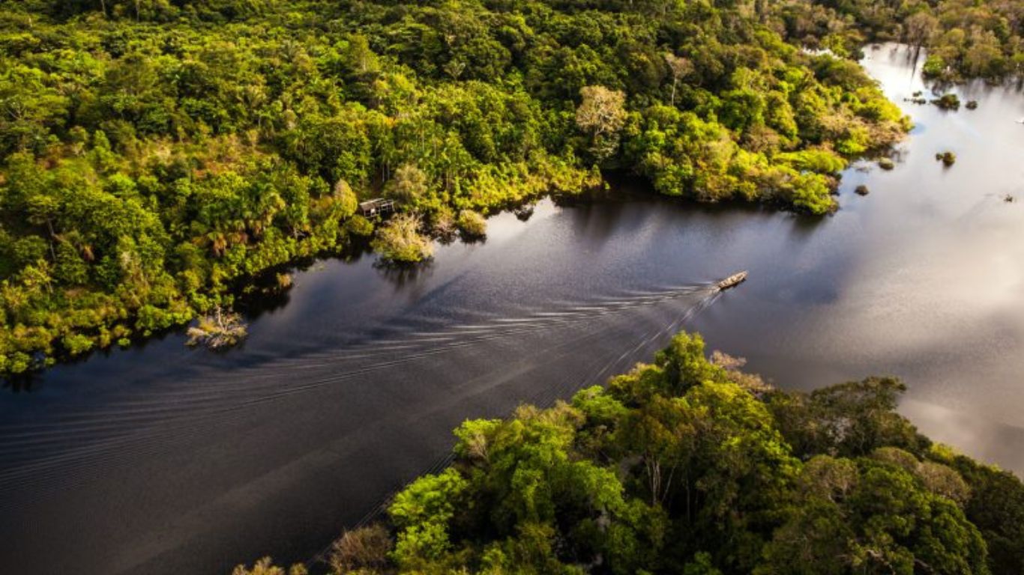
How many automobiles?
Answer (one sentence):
The picture shows no automobiles.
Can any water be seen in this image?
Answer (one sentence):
Yes, some water is visible.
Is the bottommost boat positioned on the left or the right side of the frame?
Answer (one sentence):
The bottommost boat sits on the right side.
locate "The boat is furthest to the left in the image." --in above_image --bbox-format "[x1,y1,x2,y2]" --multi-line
[715,270,748,292]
